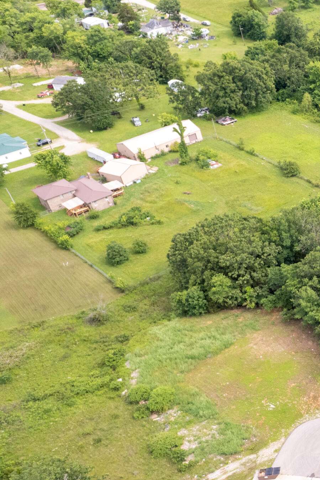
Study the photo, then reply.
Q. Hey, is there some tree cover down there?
Yes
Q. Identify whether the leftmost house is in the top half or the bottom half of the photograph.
top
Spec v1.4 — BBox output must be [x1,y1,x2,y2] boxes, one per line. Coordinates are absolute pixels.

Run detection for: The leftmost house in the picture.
[0,133,34,163]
